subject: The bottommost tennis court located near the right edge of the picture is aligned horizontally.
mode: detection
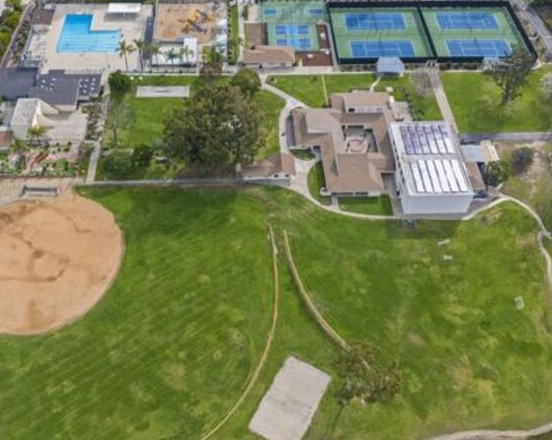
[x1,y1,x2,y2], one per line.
[428,34,534,56]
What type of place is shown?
sports ground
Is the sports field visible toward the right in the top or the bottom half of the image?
bottom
